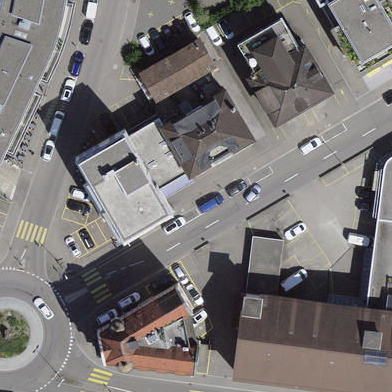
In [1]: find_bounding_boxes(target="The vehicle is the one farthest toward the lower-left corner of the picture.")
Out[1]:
[33,296,55,320]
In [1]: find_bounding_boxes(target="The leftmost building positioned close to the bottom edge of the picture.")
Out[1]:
[96,280,200,376]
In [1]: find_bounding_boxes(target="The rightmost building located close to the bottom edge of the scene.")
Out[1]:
[232,294,392,392]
